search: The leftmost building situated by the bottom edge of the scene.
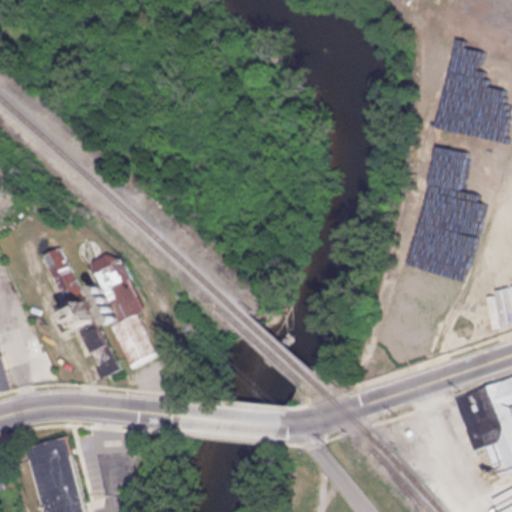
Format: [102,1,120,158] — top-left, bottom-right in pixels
[28,436,83,512]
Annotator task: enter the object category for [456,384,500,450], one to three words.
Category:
building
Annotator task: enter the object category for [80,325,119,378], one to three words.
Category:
house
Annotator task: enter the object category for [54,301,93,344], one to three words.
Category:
building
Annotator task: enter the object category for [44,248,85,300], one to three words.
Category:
house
